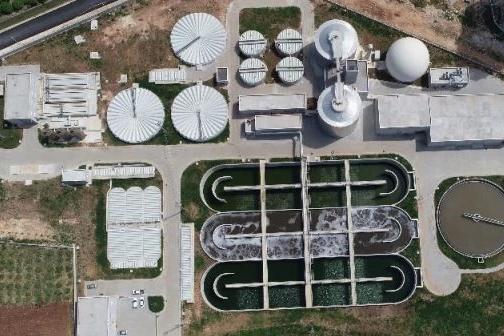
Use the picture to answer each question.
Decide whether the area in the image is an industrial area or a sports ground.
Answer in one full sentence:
This image shows an industrial area.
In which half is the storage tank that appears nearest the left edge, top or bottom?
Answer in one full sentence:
It is in the top half that the storage tank that appears nearest the left edge appears.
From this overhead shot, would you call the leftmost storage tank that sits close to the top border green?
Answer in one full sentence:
No, the leftmost storage tank that sits close to the top border is actually white.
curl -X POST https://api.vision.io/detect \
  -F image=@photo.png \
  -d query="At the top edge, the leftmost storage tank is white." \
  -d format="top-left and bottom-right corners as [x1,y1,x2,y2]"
[170,14,227,75]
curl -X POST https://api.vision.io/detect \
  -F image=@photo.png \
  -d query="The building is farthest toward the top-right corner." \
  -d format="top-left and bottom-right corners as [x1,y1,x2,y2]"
[427,66,469,88]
